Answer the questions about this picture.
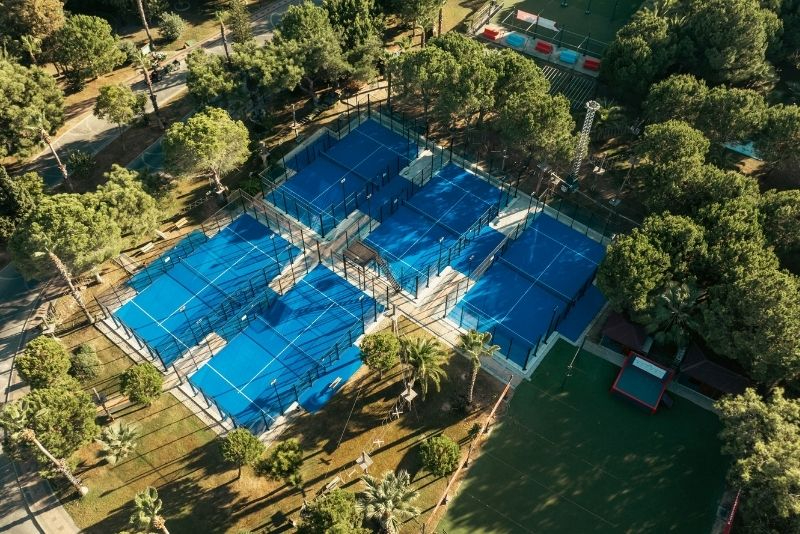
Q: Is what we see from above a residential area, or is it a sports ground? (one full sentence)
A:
This image shows a sports ground.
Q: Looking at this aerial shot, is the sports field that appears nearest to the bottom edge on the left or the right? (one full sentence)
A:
The sports field that appears nearest to the bottom edge appears in the right half of the scene.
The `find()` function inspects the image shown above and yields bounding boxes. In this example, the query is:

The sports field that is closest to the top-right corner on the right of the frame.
[490,0,680,59]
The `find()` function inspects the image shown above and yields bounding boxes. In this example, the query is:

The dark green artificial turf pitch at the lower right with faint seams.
[439,338,760,534]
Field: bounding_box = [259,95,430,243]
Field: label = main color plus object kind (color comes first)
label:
blue sports court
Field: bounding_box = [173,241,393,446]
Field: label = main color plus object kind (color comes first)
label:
blue sports court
